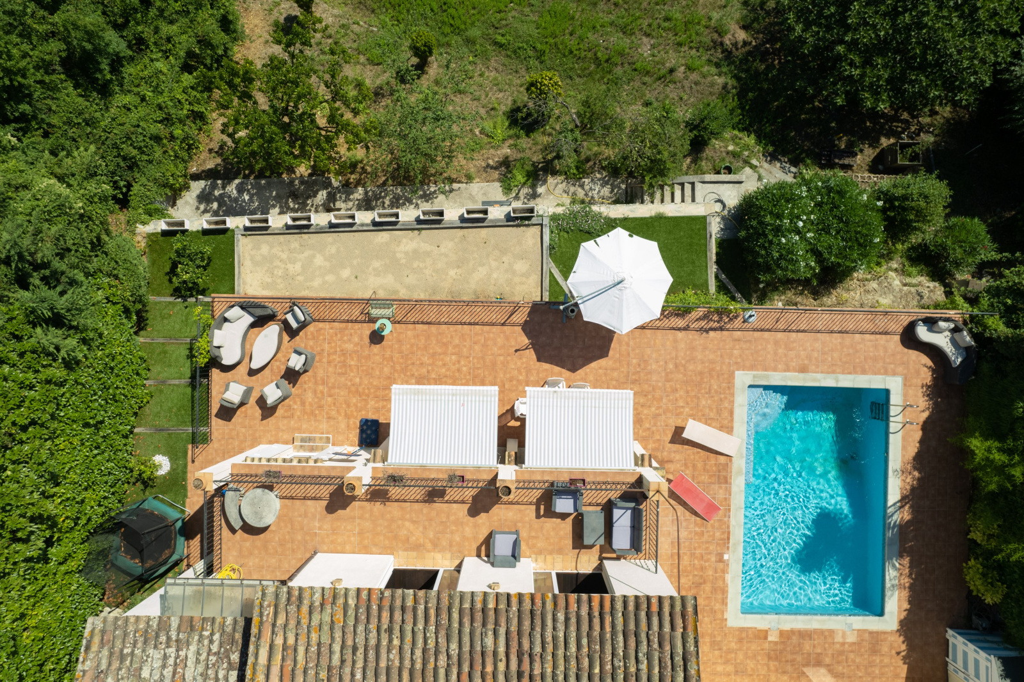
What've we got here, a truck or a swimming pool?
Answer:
swimming pool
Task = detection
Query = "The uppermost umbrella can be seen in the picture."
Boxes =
[550,227,673,334]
